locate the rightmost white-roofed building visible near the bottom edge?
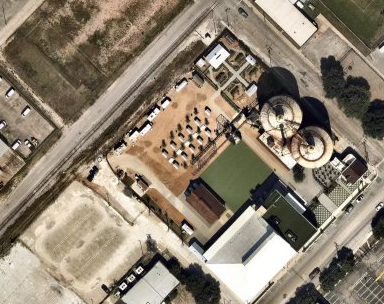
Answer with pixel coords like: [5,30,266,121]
[204,206,298,304]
